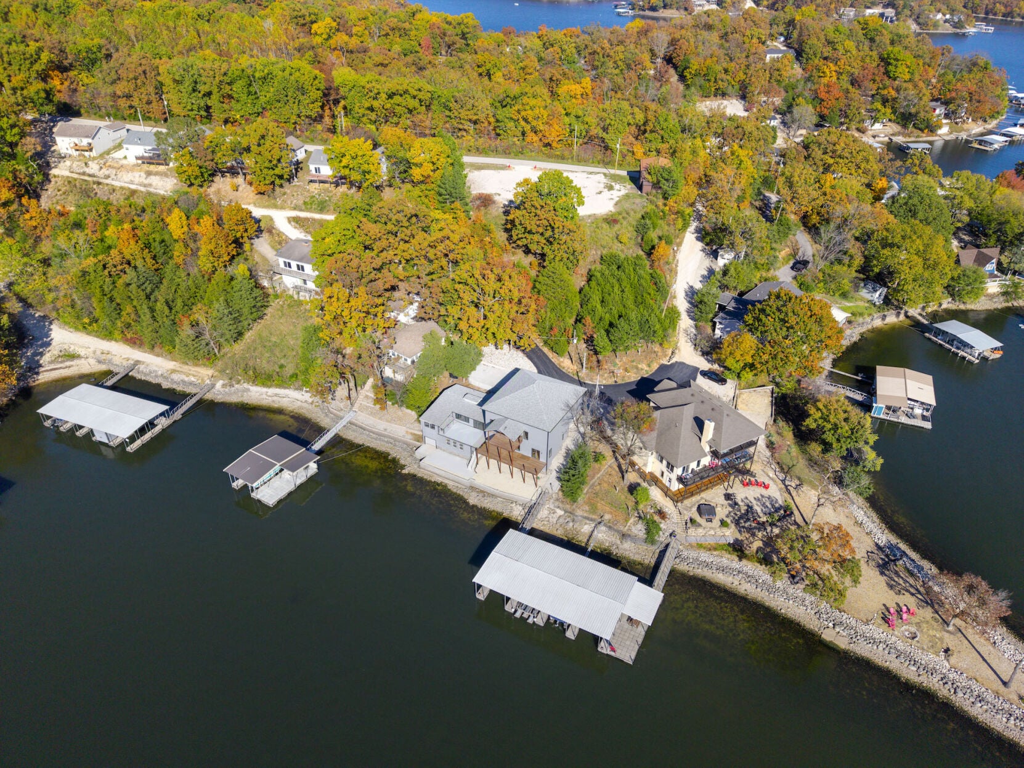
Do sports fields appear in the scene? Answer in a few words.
No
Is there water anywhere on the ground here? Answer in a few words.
Yes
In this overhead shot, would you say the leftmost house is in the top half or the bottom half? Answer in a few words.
top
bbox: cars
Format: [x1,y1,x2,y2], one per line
[791,258,811,270]
[699,367,730,383]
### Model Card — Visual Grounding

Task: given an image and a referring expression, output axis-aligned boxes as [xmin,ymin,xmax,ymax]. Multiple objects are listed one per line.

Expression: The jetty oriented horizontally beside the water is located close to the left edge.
[37,383,191,456]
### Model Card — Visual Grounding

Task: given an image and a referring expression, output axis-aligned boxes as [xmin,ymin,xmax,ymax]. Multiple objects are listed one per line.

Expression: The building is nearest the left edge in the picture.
[51,119,133,158]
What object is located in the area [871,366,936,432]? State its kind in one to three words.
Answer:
pier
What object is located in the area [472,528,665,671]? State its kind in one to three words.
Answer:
pier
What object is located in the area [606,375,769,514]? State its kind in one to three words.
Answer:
house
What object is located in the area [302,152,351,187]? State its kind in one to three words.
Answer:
house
